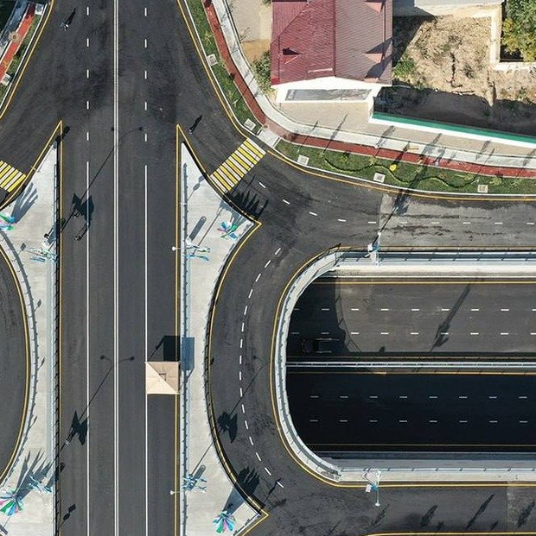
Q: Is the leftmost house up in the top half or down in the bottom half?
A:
top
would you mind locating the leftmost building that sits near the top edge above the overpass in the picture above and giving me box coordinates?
[263,0,391,106]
